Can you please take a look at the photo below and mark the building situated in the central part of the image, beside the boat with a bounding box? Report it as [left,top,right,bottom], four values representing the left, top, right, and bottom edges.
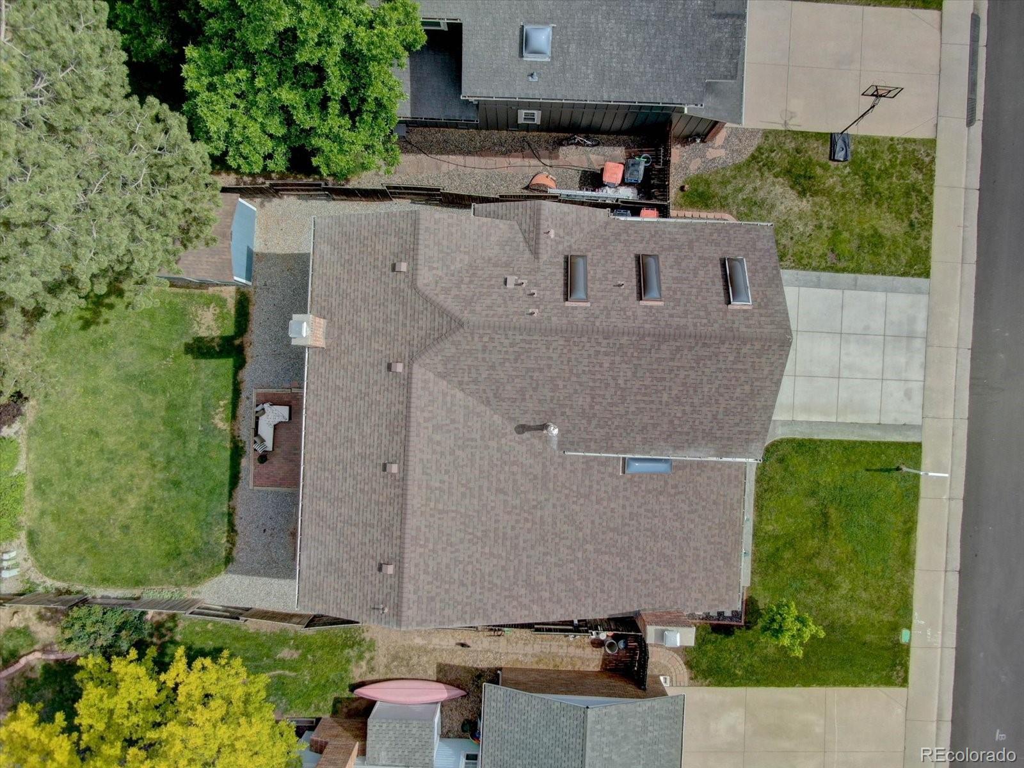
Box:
[287,201,793,648]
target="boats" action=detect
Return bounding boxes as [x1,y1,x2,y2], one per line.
[354,676,467,704]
